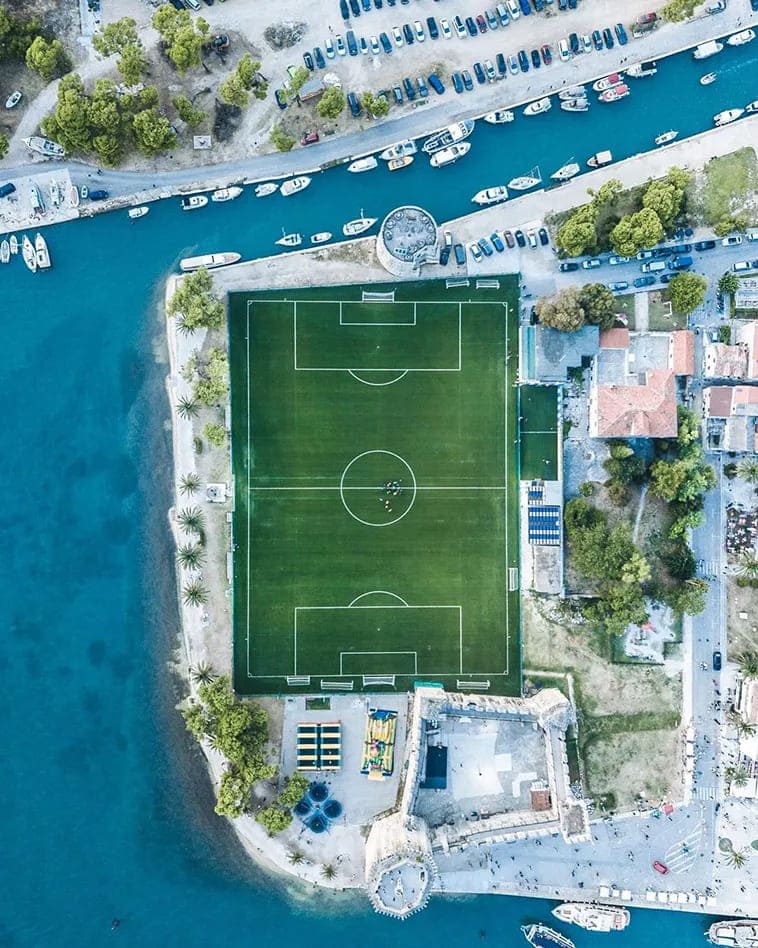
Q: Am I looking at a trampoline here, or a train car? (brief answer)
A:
trampoline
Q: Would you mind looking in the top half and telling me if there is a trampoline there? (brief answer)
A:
No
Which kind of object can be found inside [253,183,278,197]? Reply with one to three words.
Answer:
boat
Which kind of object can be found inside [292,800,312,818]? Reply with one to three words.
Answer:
trampoline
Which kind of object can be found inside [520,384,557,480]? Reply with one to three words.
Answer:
sports court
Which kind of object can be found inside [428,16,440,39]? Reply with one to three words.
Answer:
vehicle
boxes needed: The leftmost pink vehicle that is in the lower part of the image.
[652,861,669,876]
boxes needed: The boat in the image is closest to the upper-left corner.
[2,89,19,108]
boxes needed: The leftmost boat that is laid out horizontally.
[20,137,68,156]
